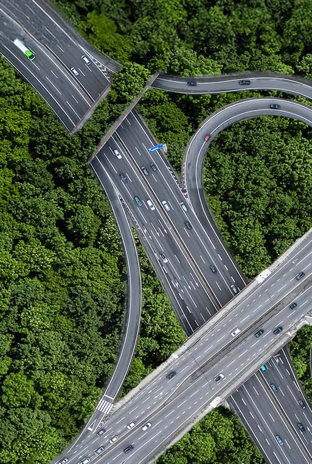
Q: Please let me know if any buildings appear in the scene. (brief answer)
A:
No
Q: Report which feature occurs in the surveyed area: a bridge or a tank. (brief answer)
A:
bridge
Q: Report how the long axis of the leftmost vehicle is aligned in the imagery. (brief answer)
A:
on a diagonal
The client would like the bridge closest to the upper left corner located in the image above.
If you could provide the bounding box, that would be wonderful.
[66,60,159,163]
